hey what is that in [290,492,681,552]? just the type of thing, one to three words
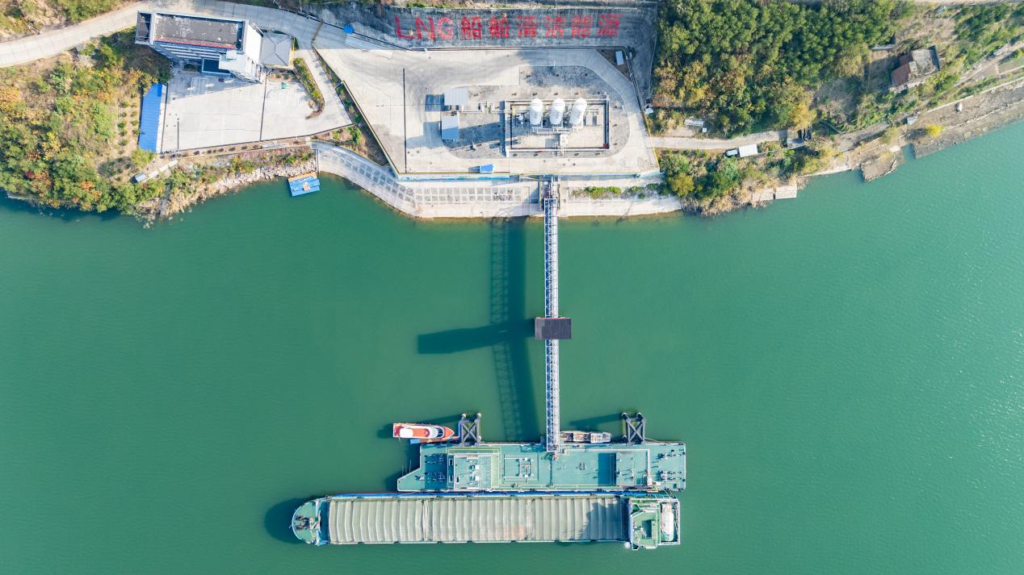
ship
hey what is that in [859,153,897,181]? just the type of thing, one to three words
pier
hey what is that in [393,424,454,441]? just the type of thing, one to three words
boat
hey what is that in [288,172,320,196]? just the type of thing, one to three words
pier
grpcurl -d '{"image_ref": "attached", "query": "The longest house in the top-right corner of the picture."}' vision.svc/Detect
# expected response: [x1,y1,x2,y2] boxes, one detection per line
[879,45,942,92]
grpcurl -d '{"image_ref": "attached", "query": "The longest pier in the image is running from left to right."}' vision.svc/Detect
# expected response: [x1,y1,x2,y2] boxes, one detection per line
[397,440,687,493]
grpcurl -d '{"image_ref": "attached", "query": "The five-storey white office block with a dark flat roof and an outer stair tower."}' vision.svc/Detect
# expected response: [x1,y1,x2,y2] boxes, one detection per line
[133,8,264,84]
